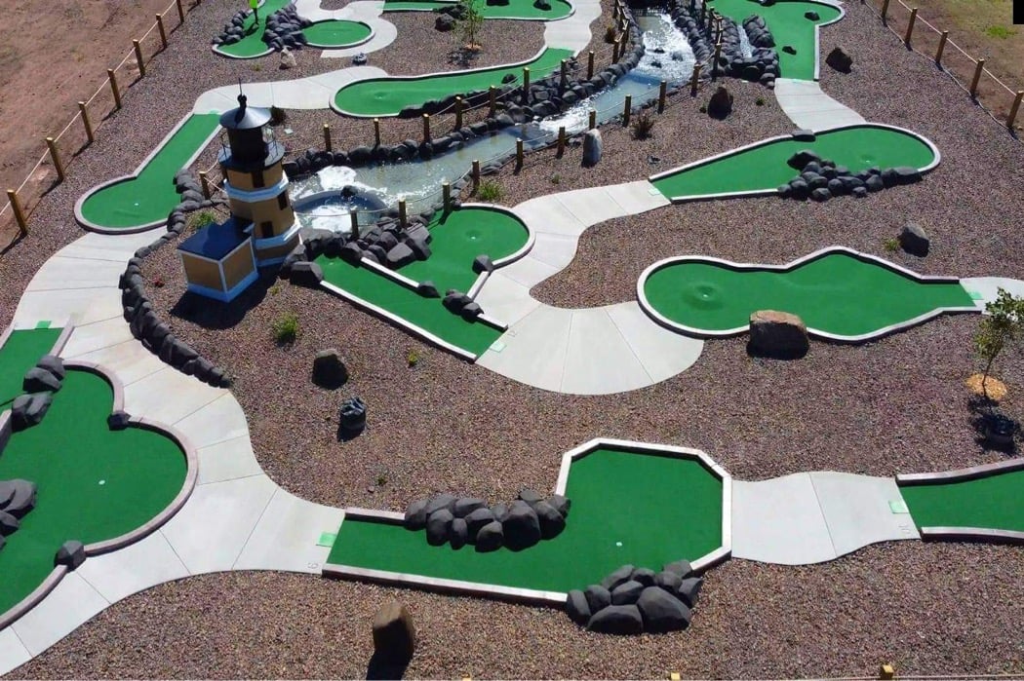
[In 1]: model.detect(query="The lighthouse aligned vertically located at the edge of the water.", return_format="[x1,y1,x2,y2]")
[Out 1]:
[218,78,301,266]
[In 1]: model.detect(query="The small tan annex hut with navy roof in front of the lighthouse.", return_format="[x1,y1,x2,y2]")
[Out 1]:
[177,225,258,302]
